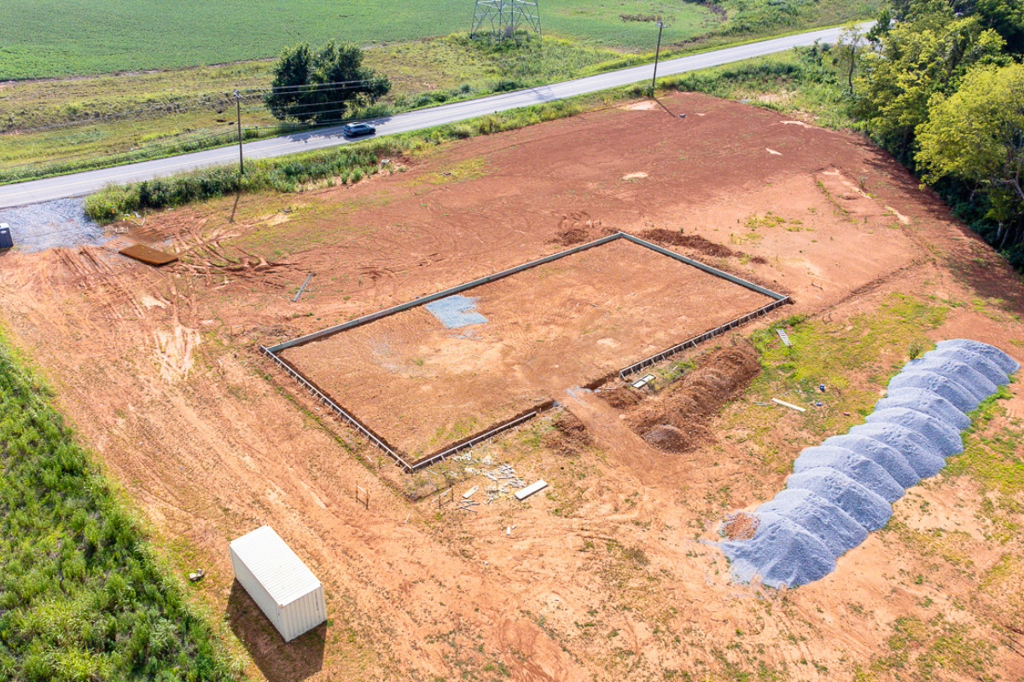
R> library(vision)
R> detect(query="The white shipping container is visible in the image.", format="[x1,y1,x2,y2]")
[229,525,327,642]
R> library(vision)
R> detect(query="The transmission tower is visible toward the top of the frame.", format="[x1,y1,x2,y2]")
[468,0,544,47]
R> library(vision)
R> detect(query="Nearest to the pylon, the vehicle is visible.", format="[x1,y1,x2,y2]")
[343,122,377,137]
